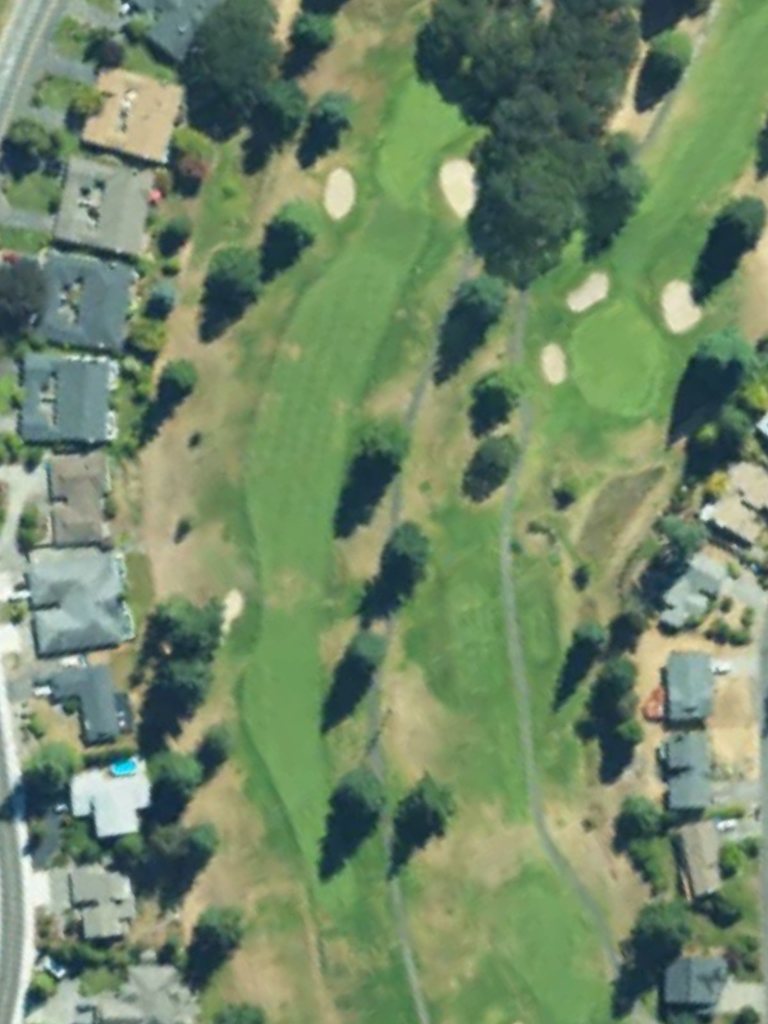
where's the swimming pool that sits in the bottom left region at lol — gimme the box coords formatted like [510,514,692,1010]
[110,757,137,775]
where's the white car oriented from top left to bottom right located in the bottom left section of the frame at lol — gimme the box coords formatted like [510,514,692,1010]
[43,958,65,978]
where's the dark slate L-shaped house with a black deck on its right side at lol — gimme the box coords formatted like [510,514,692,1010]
[47,663,134,744]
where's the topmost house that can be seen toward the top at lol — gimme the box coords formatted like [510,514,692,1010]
[128,0,210,62]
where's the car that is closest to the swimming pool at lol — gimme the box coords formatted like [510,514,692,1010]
[51,802,71,815]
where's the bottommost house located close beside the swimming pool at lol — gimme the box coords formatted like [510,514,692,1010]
[70,773,152,839]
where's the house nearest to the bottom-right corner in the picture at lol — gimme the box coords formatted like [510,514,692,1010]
[666,958,729,1005]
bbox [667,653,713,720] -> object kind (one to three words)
house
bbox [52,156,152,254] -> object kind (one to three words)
house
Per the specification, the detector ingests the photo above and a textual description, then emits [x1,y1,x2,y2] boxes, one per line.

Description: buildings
[667,653,713,720]
[27,546,135,658]
[140,950,156,961]
[700,462,768,546]
[52,156,152,254]
[682,824,724,897]
[660,731,712,810]
[128,0,210,62]
[34,256,140,348]
[666,958,729,1005]
[49,454,110,545]
[22,353,118,442]
[755,406,768,438]
[70,773,152,839]
[47,663,134,744]
[90,965,201,1024]
[659,551,732,629]
[79,65,185,161]
[67,867,136,942]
